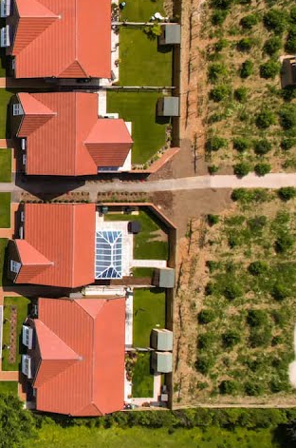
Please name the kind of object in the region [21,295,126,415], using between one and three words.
house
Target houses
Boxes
[21,295,126,415]
[11,92,131,175]
[8,203,96,286]
[0,0,112,78]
